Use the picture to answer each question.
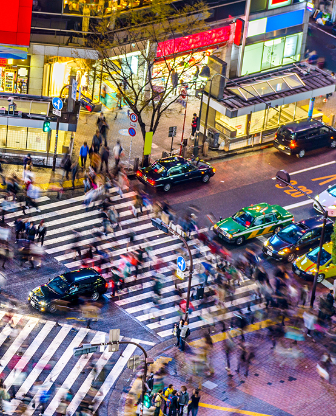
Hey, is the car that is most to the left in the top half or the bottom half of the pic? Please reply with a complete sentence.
You can find the car that is most to the left in the bottom half.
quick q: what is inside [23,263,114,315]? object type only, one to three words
car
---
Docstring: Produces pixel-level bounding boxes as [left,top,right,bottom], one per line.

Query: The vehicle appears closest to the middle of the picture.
[137,154,219,193]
